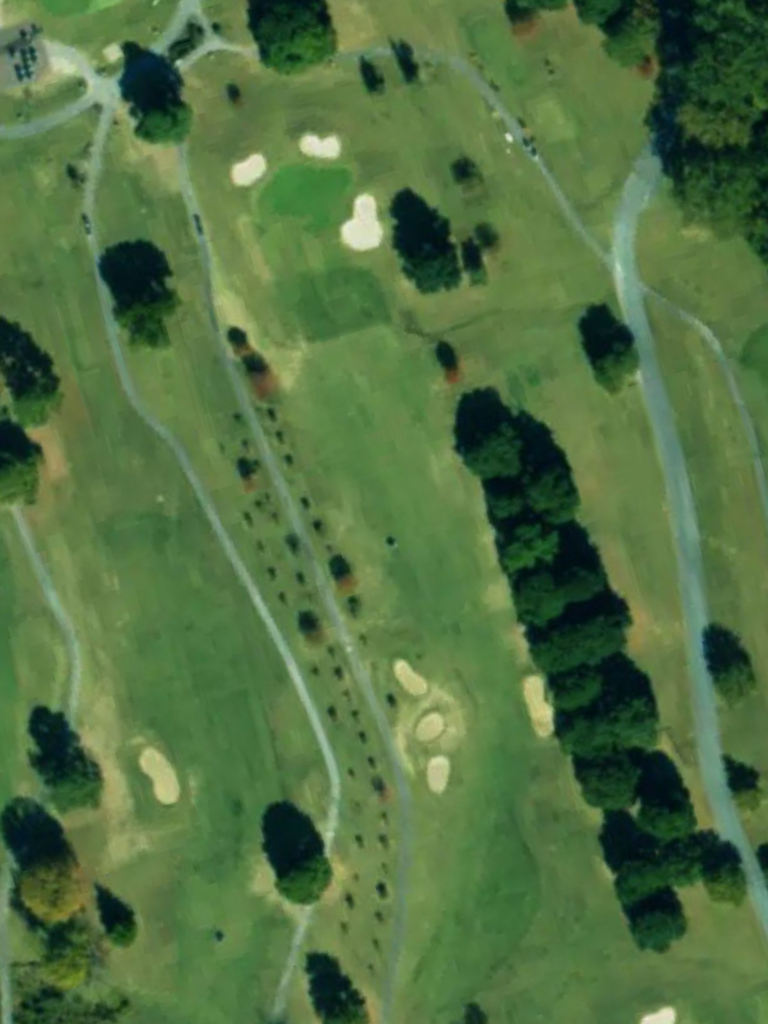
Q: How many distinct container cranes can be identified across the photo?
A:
none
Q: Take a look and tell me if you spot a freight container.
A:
No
